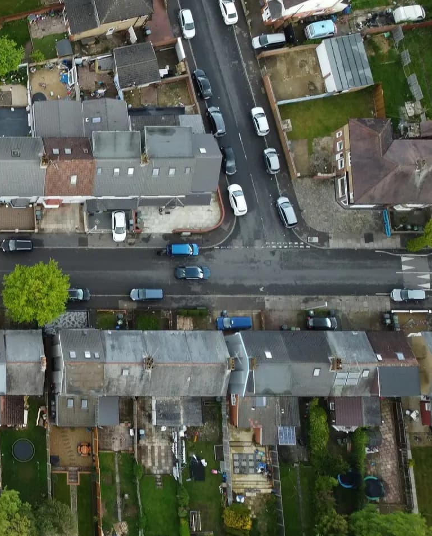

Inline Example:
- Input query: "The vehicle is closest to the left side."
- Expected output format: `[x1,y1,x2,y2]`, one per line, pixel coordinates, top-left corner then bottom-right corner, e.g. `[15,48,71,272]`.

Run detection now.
[1,237,33,253]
